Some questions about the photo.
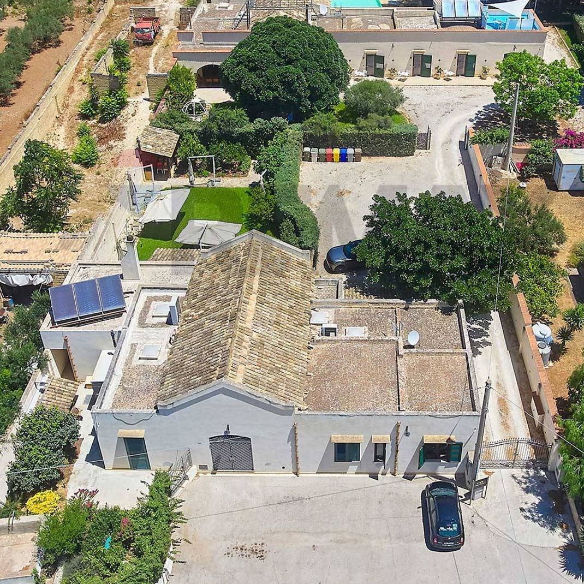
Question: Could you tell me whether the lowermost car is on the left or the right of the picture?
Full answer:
The lowermost car is on the right side of the image.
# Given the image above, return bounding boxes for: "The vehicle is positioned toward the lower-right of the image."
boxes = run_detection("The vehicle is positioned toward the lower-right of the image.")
[420,480,467,553]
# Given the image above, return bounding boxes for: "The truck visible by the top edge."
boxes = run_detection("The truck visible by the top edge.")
[130,25,158,47]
